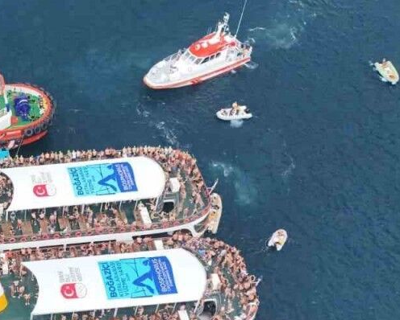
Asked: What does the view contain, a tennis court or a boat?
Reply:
boat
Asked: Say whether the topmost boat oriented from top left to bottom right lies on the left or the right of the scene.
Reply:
right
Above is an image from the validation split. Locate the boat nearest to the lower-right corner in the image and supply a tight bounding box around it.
[268,228,287,252]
